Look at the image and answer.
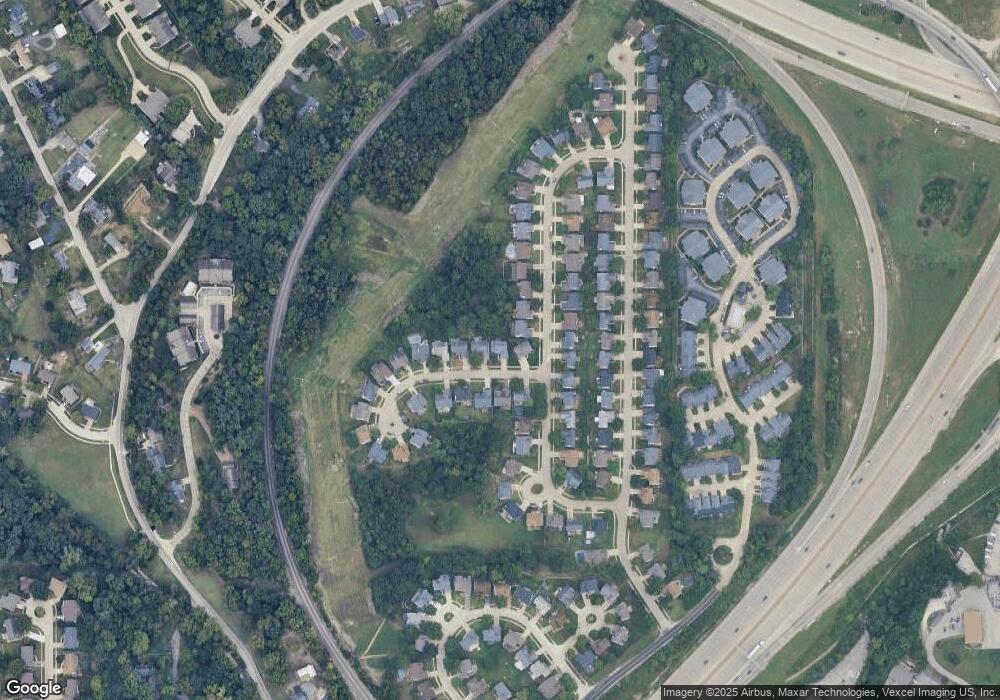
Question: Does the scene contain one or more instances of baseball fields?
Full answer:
No, there is no baseball field in the image.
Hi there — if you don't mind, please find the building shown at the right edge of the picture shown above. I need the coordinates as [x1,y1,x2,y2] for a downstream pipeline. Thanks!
[964,611,983,643]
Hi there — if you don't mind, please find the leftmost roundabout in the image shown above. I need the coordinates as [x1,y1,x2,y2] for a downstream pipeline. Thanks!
[520,473,553,506]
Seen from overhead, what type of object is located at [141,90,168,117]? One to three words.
house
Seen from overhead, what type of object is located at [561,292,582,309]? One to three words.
house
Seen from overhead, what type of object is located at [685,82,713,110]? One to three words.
building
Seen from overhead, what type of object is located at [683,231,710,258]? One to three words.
building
